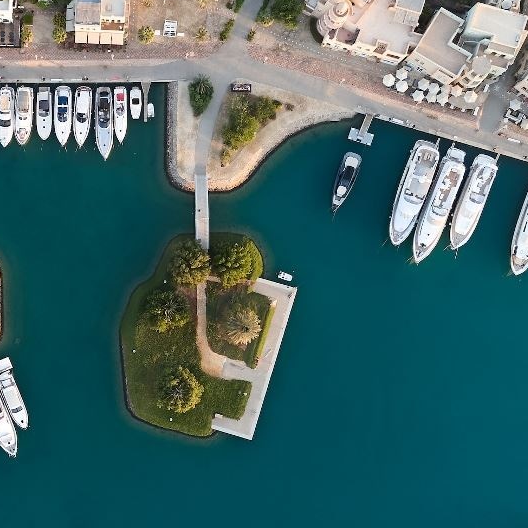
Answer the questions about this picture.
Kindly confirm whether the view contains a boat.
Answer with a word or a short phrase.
Yes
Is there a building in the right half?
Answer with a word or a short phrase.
Yes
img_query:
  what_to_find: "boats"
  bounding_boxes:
[448,150,464,159]
[330,152,360,212]
[113,87,127,150]
[129,89,142,121]
[95,86,114,161]
[73,86,92,154]
[509,185,528,274]
[55,86,72,154]
[0,78,15,147]
[279,272,293,282]
[36,87,52,140]
[389,137,437,247]
[0,388,17,456]
[14,78,33,147]
[407,153,464,273]
[0,372,30,432]
[446,148,494,257]
[148,104,155,119]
